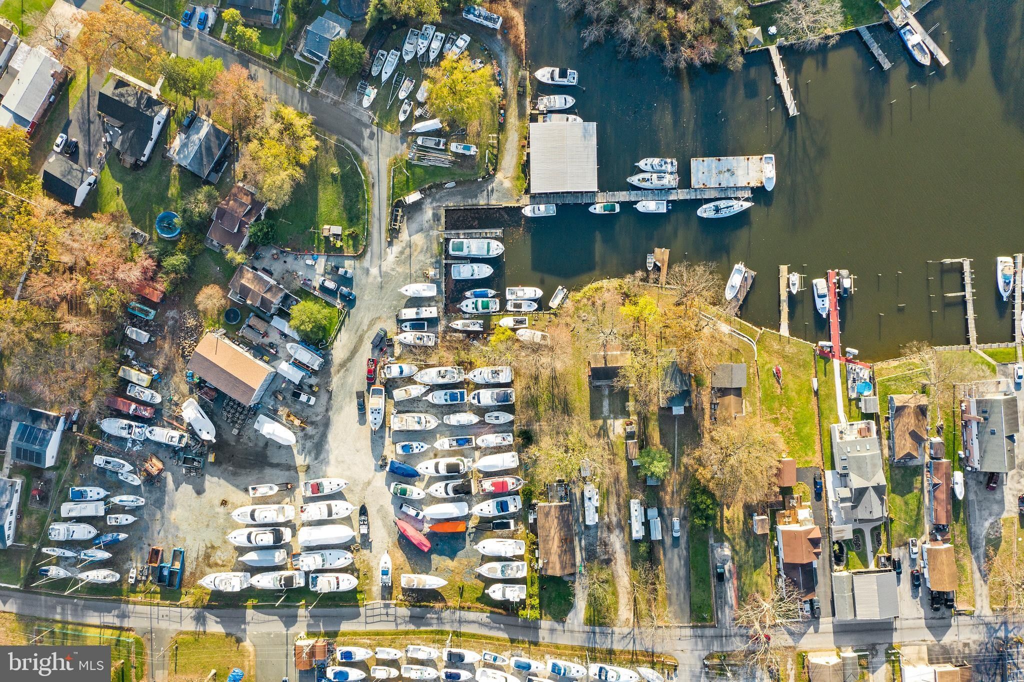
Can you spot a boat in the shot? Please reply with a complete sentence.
Yes, a boat is visible in the scene.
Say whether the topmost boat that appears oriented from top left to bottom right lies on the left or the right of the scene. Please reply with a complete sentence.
The topmost boat that appears oriented from top left to bottom right is on the right side of the image.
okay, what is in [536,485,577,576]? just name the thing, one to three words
house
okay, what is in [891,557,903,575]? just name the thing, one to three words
vehicle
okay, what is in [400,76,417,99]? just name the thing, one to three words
boat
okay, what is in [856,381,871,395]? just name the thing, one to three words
swimming pool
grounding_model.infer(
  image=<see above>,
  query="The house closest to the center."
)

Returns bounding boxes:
[589,351,633,389]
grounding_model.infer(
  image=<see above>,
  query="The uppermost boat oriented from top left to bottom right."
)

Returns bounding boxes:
[898,26,930,65]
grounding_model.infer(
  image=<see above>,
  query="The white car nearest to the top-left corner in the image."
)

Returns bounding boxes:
[55,134,69,152]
